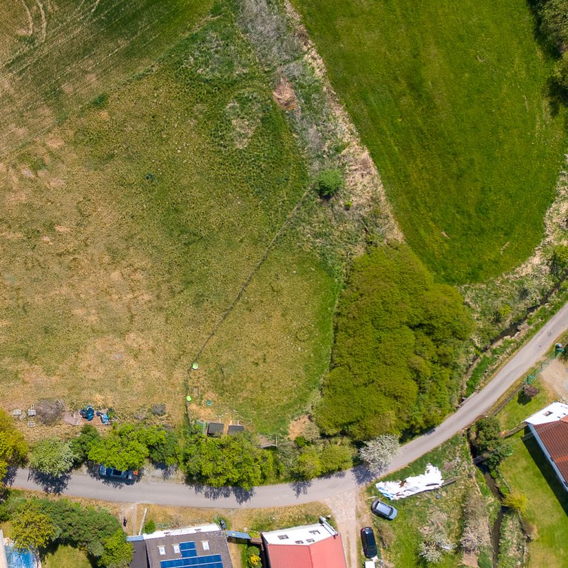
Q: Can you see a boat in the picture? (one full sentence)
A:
No, the picture doesn't show any boat.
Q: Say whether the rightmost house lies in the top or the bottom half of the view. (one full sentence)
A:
The bottom half of the photo is where the rightmost house is.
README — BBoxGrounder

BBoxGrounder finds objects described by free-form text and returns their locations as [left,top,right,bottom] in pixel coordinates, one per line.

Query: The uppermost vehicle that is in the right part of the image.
[370,498,399,521]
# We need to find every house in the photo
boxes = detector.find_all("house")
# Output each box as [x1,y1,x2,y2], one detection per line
[525,404,568,494]
[259,524,347,568]
[144,525,233,568]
